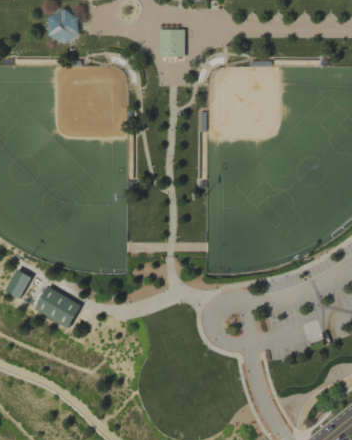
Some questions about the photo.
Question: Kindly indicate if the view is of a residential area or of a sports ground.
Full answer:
This image shows a sports ground.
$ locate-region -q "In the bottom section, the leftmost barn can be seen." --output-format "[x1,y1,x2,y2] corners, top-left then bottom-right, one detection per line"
[6,270,30,298]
